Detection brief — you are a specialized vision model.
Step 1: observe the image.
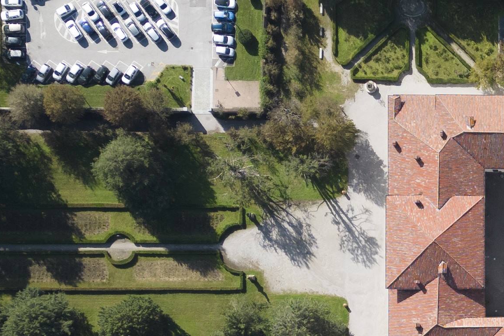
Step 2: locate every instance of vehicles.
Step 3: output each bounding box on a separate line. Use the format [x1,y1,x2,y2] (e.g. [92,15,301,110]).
[2,22,25,33]
[111,0,127,18]
[93,63,111,86]
[211,33,236,45]
[78,14,95,37]
[81,0,99,24]
[211,8,237,21]
[2,34,25,47]
[1,0,23,8]
[66,61,84,84]
[4,47,27,59]
[155,0,173,18]
[78,62,97,87]
[211,21,237,33]
[93,17,112,41]
[128,0,146,23]
[211,47,236,57]
[36,61,54,84]
[65,18,83,40]
[20,61,39,85]
[121,61,140,87]
[97,0,116,23]
[52,60,69,83]
[55,1,78,17]
[141,0,159,21]
[112,21,128,43]
[212,0,237,9]
[142,19,161,44]
[106,64,123,87]
[156,17,176,42]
